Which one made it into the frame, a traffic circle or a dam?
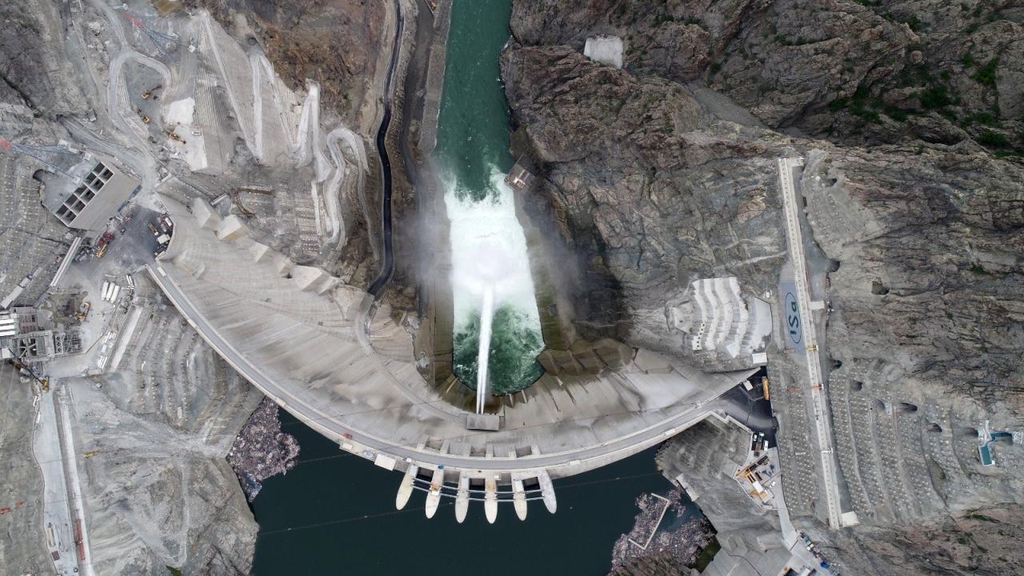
dam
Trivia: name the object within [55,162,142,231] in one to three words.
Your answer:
building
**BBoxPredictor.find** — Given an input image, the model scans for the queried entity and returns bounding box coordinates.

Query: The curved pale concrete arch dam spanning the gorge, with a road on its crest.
[150,193,763,524]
